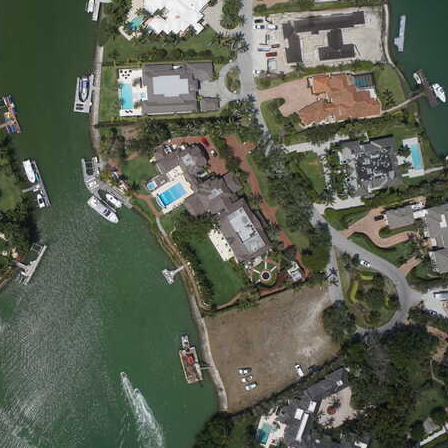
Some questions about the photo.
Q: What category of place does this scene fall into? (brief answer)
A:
residential area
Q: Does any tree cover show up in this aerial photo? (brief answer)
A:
Yes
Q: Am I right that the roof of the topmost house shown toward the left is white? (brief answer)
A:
Yes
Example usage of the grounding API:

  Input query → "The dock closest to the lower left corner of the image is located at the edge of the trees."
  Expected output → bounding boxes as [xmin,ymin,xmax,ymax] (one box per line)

[13,243,47,286]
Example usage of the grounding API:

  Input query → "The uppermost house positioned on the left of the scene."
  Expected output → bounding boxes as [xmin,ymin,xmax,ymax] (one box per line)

[139,0,209,38]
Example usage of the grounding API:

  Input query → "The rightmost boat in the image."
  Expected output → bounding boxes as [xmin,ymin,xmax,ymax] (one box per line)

[430,82,446,103]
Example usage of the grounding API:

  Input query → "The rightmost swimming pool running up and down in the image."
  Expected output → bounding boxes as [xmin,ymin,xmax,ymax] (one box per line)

[410,143,424,171]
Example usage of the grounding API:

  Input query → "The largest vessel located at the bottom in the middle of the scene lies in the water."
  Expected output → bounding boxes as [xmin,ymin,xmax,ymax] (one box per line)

[179,346,202,382]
